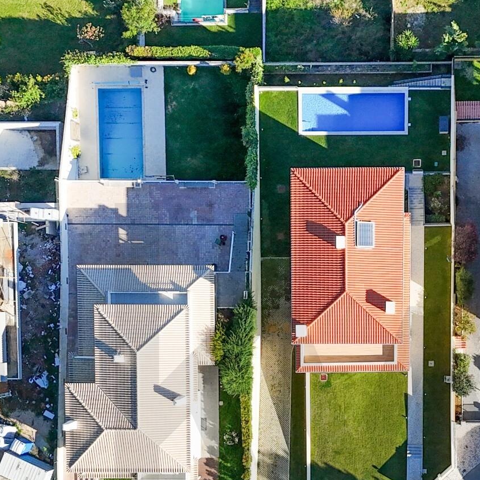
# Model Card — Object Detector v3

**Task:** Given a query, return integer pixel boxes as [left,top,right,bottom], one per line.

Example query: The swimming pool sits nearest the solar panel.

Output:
[298,88,412,134]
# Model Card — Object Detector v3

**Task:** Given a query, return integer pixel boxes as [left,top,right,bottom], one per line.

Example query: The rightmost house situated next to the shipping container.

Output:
[62,264,221,480]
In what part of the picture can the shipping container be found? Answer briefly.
bottom left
